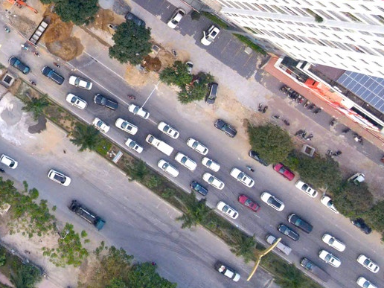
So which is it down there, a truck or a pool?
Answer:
truck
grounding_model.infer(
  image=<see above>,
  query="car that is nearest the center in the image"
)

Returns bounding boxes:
[185,136,208,155]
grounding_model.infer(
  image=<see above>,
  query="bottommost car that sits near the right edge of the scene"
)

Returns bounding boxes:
[356,276,378,288]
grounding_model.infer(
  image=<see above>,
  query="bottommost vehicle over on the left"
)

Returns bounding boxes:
[66,198,109,235]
